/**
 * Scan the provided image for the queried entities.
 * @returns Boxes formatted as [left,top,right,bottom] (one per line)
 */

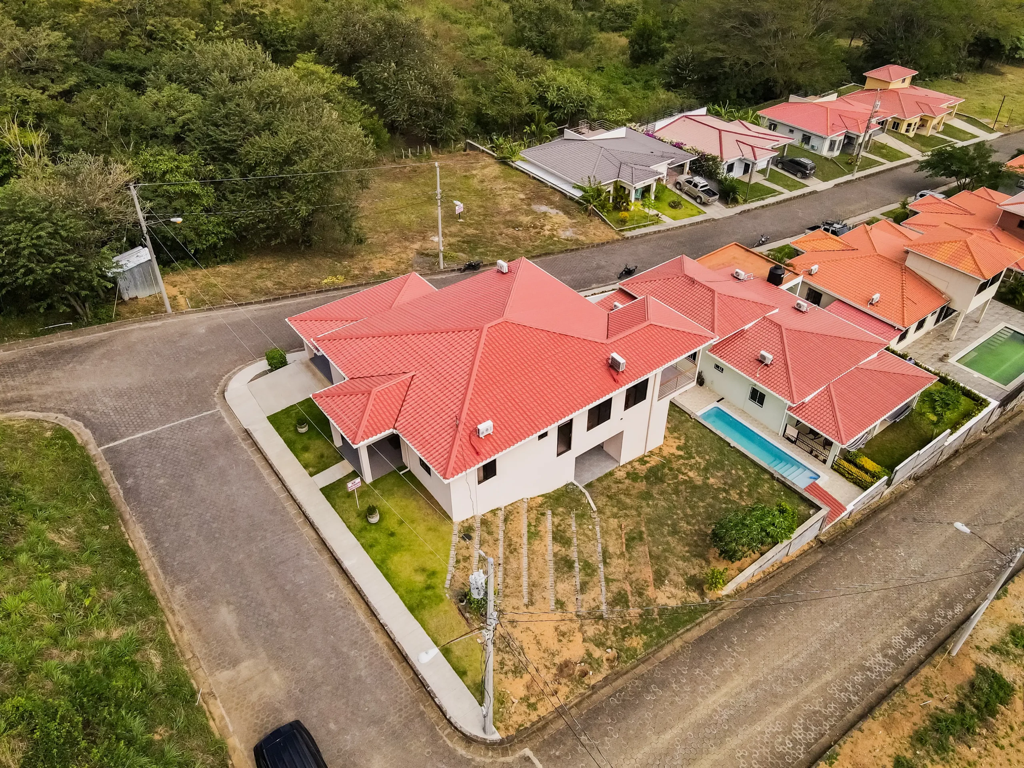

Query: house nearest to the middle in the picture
[283,255,723,519]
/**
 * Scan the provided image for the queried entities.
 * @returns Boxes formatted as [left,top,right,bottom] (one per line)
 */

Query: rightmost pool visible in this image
[949,319,1024,392]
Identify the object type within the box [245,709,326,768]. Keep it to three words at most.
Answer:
car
